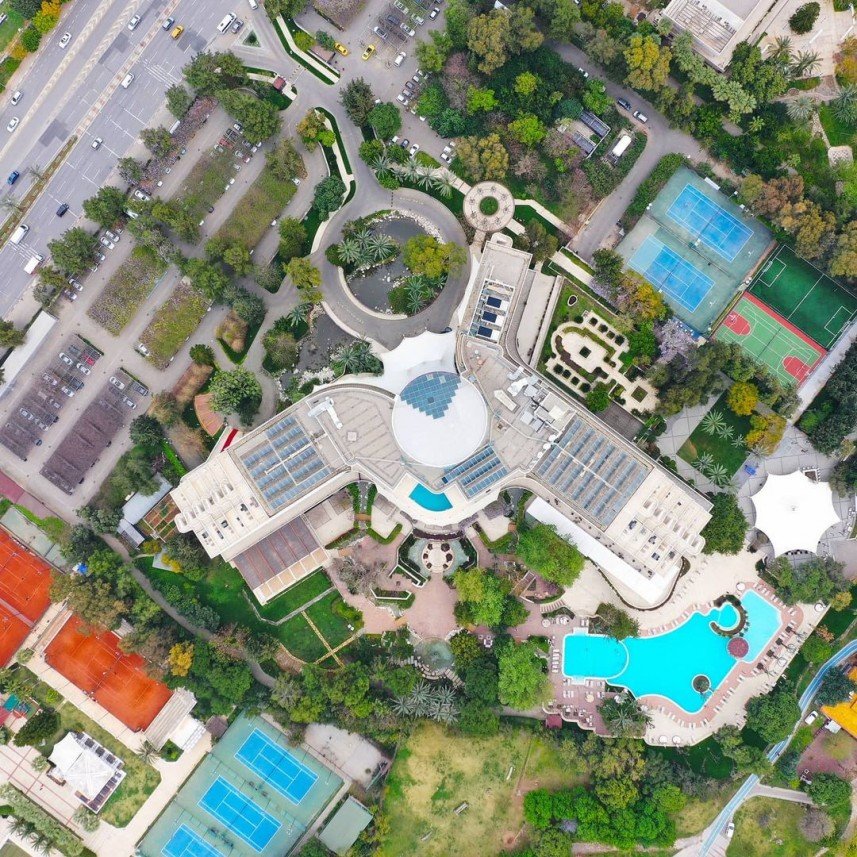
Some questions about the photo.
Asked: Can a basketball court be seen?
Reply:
Yes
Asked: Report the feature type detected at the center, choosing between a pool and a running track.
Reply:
pool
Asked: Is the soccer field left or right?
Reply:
right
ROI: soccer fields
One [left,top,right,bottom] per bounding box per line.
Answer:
[744,239,857,356]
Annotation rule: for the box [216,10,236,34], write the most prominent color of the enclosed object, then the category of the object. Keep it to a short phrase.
white vehicle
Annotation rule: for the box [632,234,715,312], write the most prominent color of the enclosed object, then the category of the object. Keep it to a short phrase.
blue tennis court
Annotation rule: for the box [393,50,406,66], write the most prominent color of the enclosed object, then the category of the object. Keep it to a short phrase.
white vehicle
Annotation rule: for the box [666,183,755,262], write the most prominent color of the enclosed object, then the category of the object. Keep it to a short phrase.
blue tennis court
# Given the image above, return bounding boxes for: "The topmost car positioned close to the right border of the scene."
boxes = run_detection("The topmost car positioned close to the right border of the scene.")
[806,711,819,726]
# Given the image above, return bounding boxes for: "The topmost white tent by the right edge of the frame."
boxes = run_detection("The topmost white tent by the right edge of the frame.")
[746,470,840,557]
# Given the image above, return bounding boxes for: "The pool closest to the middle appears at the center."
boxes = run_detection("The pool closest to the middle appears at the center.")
[408,483,454,511]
